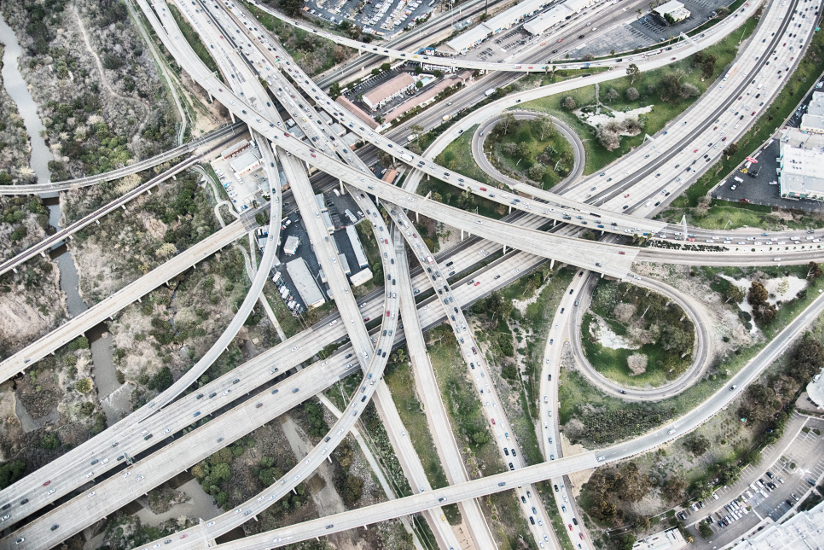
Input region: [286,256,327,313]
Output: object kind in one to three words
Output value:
building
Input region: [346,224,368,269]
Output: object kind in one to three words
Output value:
building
